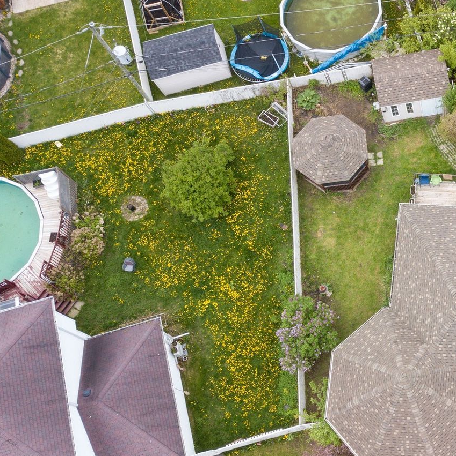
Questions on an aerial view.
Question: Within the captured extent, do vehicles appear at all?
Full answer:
No, there appears to be no vehicle in this shot.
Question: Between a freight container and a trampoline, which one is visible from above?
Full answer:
I can see a trampoline in this picture.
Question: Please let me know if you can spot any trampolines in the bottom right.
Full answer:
No, there is no trampoline in the bottom right.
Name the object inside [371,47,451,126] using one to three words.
shed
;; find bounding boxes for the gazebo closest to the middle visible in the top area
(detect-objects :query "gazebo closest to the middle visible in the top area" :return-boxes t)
[291,115,372,197]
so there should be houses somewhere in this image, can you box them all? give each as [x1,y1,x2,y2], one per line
[324,201,456,456]
[0,293,194,456]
